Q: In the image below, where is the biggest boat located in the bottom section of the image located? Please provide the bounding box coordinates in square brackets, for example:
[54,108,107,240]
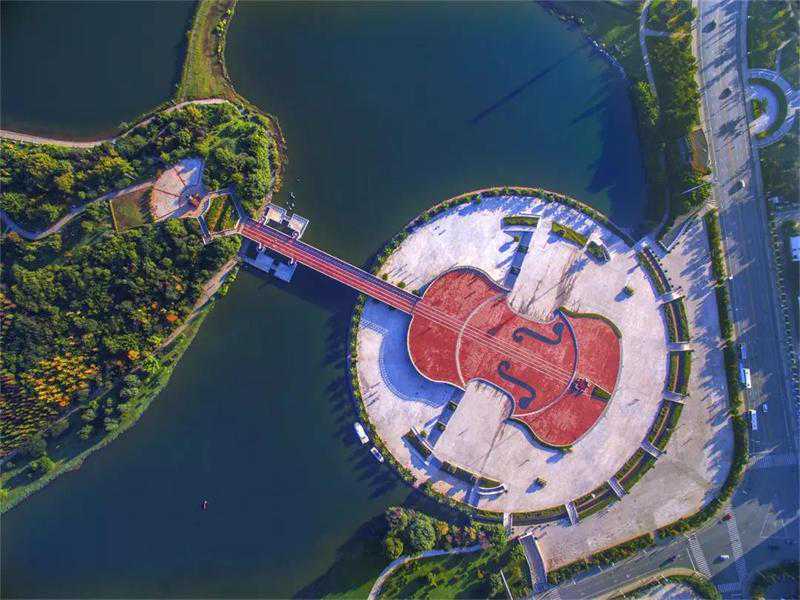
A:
[354,423,367,445]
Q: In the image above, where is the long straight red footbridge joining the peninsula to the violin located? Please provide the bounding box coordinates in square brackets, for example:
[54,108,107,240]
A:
[238,217,418,312]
